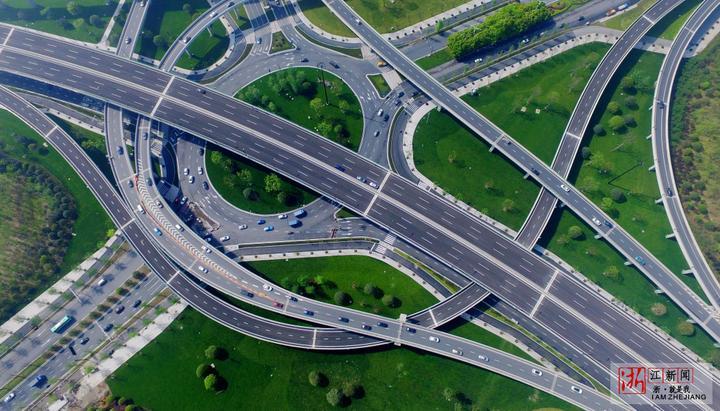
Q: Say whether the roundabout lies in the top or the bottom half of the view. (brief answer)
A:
top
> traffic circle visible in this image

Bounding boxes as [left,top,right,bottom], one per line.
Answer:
[173,25,412,251]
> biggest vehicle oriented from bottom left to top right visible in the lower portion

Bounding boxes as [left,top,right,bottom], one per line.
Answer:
[48,314,72,333]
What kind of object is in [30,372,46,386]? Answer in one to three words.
vehicle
